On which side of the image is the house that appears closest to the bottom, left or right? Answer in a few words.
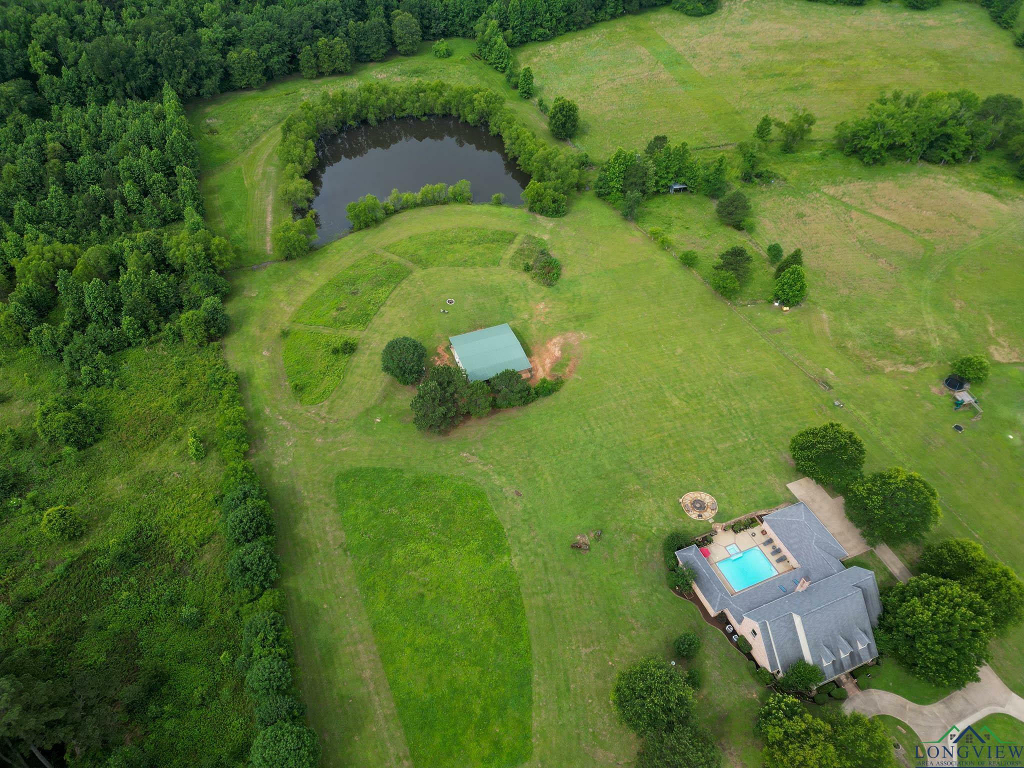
right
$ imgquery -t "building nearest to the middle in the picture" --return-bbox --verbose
[449,324,532,387]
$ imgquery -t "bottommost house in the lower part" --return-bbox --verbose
[676,501,885,696]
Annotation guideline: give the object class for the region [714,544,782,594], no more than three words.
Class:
swimming pool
